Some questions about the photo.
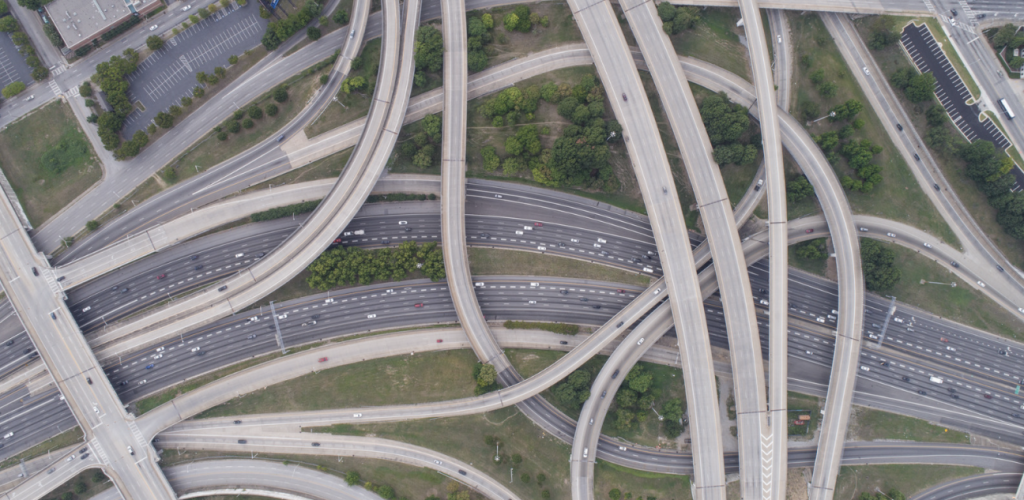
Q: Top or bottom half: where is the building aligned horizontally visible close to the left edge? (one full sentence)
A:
The building aligned horizontally visible close to the left edge is in the top half of the image.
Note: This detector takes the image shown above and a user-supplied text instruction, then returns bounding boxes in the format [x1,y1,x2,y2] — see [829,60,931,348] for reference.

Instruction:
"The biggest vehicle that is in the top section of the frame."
[998,98,1015,118]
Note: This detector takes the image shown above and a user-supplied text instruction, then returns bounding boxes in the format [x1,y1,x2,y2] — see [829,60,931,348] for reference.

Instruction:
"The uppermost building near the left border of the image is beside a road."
[42,0,170,56]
